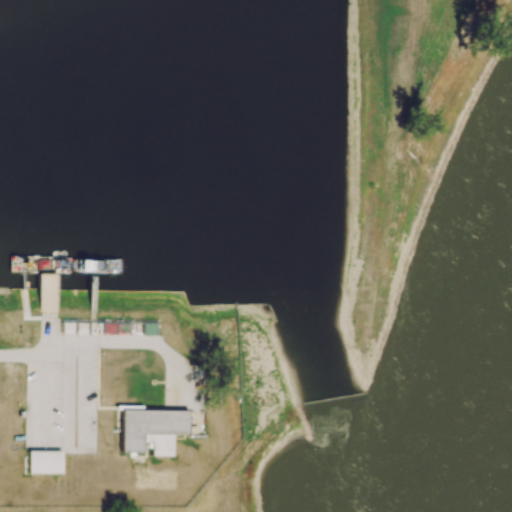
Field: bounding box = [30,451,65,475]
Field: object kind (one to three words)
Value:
shed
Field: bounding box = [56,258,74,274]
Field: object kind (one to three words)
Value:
boat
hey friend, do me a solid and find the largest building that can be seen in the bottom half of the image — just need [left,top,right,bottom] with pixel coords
[124,410,191,458]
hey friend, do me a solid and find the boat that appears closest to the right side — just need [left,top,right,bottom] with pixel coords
[74,259,124,274]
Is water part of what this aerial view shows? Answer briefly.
Yes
